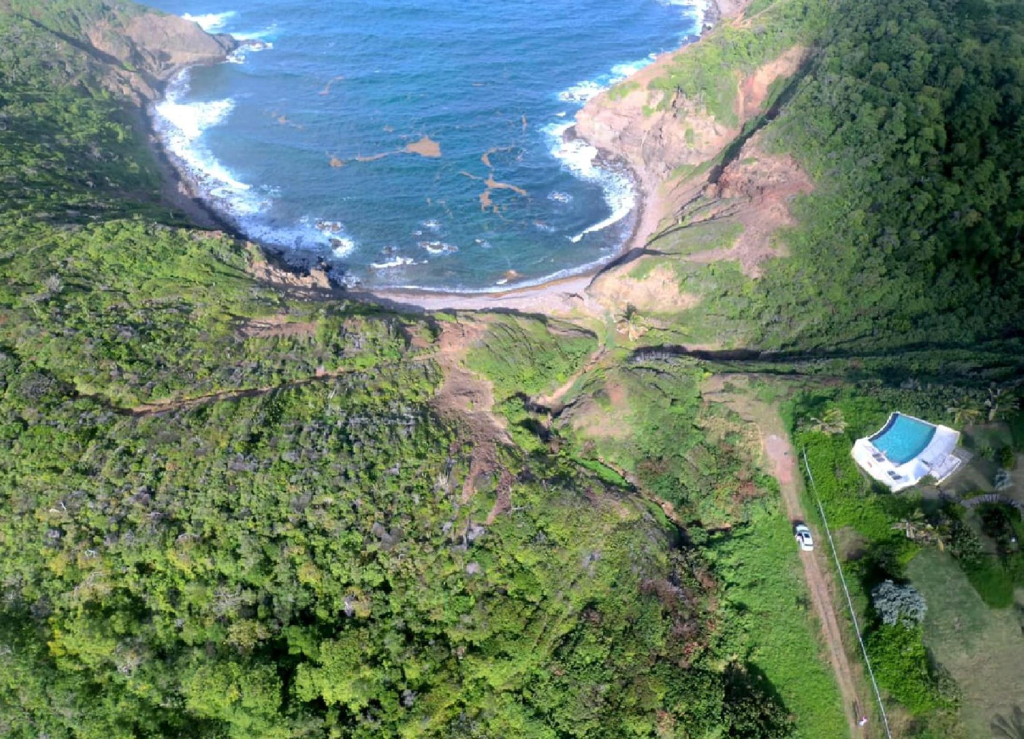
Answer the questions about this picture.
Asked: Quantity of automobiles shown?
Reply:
one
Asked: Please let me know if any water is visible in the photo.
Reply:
Yes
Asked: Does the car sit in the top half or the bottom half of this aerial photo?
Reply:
bottom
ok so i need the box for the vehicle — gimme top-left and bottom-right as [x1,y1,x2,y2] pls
[792,528,814,553]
